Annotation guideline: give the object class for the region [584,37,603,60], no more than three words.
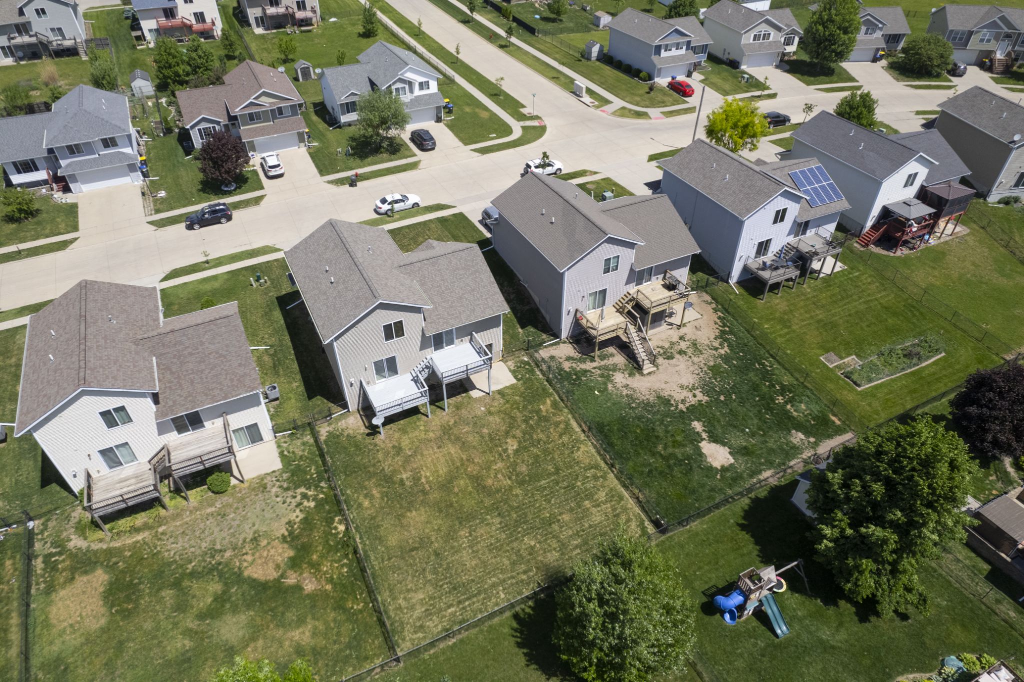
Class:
shed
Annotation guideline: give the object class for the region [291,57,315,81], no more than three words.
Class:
shed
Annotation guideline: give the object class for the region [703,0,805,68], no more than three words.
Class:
house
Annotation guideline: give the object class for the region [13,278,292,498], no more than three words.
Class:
house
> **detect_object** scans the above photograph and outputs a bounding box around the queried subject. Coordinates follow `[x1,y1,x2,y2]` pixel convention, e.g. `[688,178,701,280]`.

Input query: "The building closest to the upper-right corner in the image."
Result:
[926,6,1024,75]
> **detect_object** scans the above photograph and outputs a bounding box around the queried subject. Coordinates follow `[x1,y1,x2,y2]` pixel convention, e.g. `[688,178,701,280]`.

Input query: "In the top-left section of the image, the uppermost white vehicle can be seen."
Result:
[261,153,284,175]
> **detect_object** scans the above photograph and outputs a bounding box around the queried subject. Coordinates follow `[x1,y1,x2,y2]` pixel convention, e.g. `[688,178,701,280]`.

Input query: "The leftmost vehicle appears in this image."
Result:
[184,201,232,230]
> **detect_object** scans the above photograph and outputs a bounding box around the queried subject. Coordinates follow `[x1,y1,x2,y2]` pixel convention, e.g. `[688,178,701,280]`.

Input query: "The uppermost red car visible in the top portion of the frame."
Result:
[669,80,696,95]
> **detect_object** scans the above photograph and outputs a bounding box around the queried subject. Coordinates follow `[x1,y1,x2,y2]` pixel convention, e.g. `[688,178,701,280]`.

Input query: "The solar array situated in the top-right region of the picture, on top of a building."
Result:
[789,164,845,207]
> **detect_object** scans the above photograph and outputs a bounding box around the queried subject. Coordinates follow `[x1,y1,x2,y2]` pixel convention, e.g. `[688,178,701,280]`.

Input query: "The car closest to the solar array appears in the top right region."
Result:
[765,109,793,128]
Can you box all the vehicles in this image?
[375,193,422,215]
[669,80,696,95]
[413,127,435,148]
[261,153,284,175]
[765,109,793,128]
[950,58,967,73]
[521,158,562,176]
[184,201,232,230]
[478,203,501,229]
